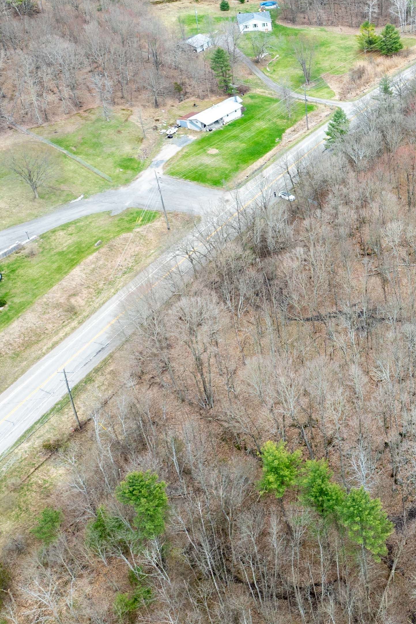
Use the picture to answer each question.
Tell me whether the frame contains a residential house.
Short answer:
Yes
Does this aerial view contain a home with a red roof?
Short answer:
No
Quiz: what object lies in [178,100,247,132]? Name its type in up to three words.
house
